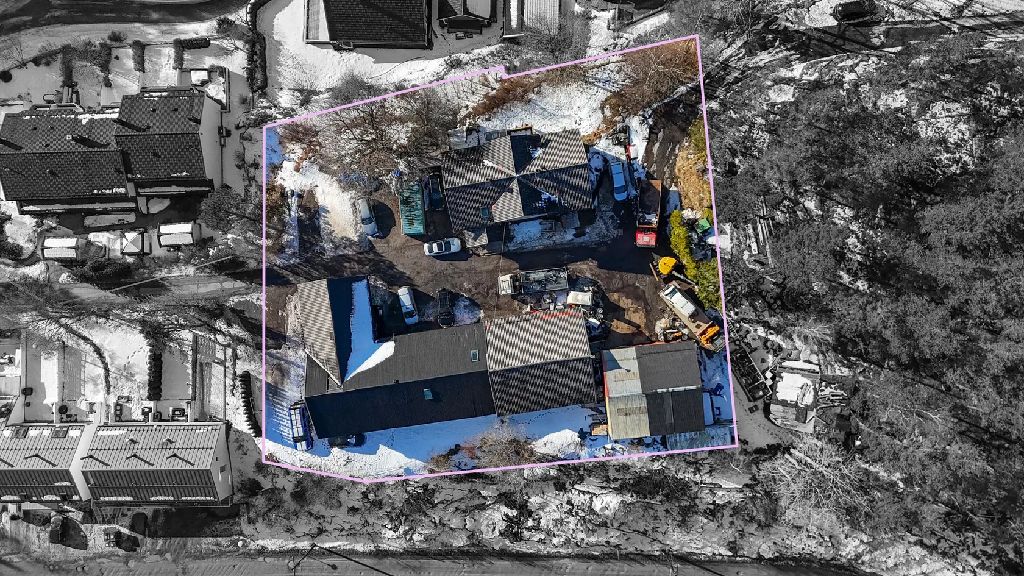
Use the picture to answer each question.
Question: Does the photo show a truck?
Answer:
Yes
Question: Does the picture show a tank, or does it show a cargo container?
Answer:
cargo container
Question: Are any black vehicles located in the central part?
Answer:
Yes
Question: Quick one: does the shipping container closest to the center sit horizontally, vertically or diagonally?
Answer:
vertically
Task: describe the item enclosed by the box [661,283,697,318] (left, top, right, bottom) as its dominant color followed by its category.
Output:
white car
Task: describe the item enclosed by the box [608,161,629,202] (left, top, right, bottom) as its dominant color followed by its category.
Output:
blue car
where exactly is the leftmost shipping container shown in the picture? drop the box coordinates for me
[402,183,428,235]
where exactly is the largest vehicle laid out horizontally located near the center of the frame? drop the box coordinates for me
[496,265,569,299]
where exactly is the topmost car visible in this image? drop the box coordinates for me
[832,0,875,22]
